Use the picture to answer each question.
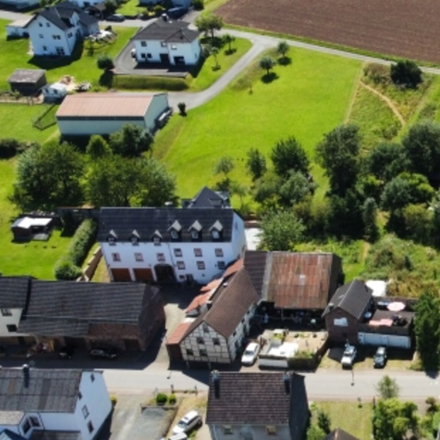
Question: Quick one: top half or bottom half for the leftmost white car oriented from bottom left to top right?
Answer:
bottom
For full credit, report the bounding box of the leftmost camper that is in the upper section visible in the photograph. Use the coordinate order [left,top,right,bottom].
[42,84,78,103]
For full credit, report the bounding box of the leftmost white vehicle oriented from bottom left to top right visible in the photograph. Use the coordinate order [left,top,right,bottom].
[170,406,204,435]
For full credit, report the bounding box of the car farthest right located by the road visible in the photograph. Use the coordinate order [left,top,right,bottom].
[373,343,387,369]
